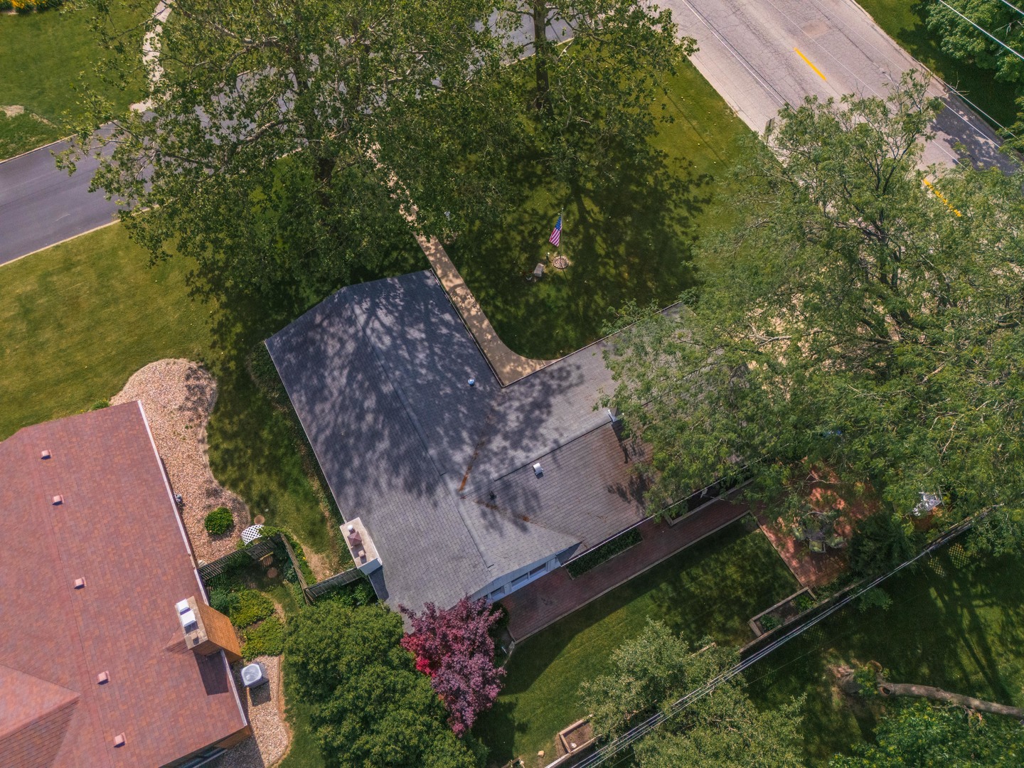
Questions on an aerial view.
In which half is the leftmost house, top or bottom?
bottom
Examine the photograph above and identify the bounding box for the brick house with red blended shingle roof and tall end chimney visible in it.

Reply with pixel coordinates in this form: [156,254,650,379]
[0,399,255,768]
